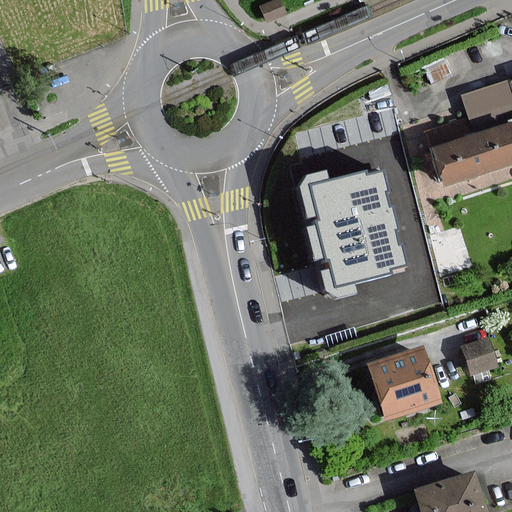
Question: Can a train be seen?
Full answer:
Yes, I can see a train in this picture.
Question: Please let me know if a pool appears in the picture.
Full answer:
No, there's no pool here.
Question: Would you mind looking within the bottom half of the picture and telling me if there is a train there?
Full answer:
No, no train appears within the bottom half of the picture.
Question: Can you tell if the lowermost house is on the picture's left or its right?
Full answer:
It is on the right.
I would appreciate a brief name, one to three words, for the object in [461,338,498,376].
house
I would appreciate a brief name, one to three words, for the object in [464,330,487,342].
vehicle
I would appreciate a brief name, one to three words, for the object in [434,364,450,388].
car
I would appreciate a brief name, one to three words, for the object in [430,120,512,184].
house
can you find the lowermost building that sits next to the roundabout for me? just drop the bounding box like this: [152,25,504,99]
[300,169,408,301]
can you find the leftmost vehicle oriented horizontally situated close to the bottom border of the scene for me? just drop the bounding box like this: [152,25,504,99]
[344,475,370,488]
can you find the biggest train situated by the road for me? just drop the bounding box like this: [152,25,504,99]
[231,7,372,76]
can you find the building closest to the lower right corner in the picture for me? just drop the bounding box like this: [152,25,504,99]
[414,471,488,512]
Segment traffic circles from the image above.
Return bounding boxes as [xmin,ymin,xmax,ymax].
[122,20,278,192]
